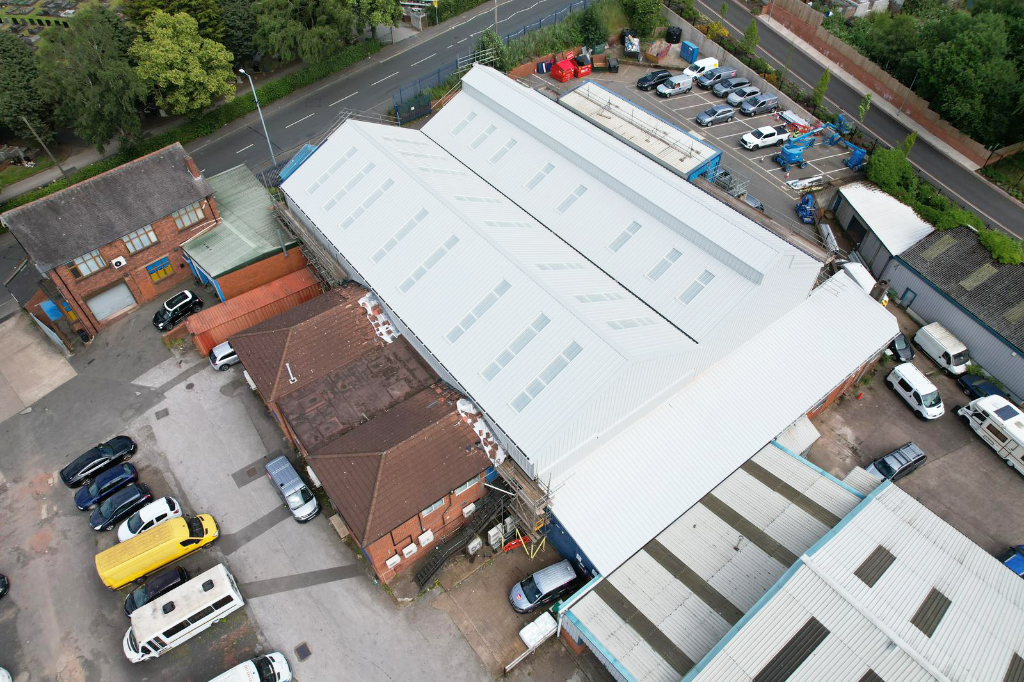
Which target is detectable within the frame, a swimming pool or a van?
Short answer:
van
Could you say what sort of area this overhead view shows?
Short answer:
industrial area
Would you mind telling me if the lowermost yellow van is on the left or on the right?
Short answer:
left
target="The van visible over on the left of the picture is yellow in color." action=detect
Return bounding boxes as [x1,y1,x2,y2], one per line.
[87,514,224,590]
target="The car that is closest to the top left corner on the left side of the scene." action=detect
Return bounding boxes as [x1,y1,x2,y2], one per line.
[154,293,203,329]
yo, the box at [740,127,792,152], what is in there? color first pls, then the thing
white truck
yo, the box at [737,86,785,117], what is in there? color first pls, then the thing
gray van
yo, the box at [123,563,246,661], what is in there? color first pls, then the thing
white vehicle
